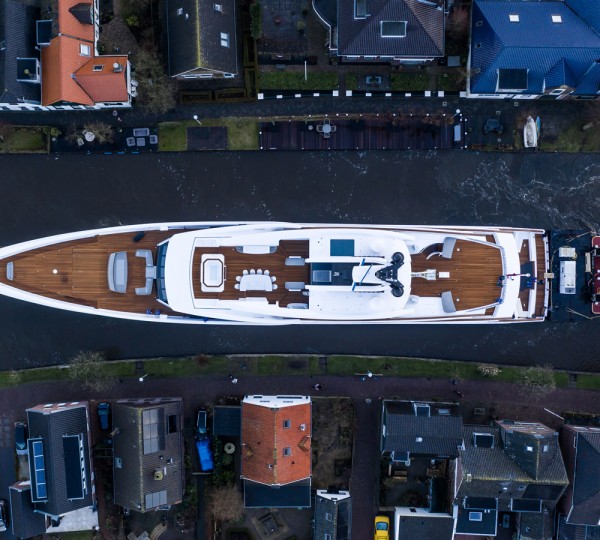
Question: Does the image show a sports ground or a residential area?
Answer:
residential area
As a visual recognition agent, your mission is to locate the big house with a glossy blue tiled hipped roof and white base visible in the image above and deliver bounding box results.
[464,0,600,102]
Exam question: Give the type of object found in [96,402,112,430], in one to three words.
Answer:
car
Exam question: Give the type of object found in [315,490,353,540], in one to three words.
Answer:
house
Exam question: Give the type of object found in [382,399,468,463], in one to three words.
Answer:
house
